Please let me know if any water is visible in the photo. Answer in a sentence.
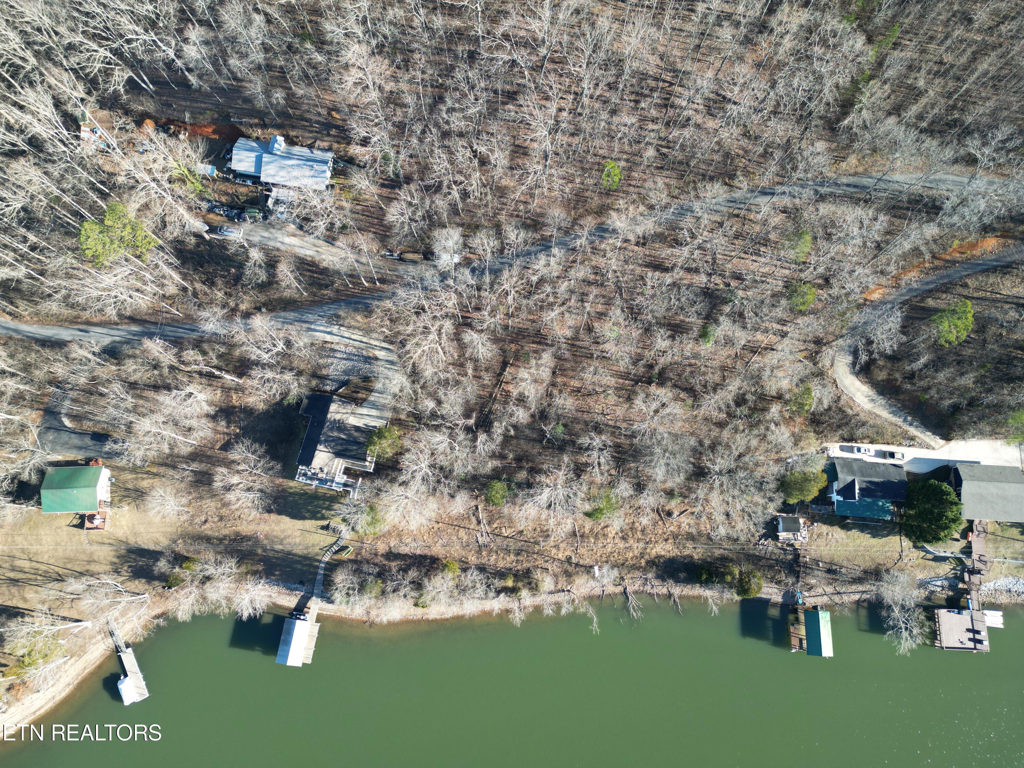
Yes, there is water in the image.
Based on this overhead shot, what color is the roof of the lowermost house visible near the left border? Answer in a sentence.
From above, the roof of the lowermost house visible near the left border looks green.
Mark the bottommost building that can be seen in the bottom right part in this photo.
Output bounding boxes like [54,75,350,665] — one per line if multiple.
[800,610,833,657]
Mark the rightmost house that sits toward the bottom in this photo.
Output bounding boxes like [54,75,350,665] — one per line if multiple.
[949,463,1024,523]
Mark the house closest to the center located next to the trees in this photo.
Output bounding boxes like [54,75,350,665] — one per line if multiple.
[297,393,371,472]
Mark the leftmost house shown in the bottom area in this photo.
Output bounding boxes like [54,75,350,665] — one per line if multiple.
[40,457,113,513]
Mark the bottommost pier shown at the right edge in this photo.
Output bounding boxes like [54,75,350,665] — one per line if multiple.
[934,609,992,653]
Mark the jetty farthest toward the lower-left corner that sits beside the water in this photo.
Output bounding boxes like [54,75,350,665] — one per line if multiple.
[103,616,151,703]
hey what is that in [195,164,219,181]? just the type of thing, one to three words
shed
